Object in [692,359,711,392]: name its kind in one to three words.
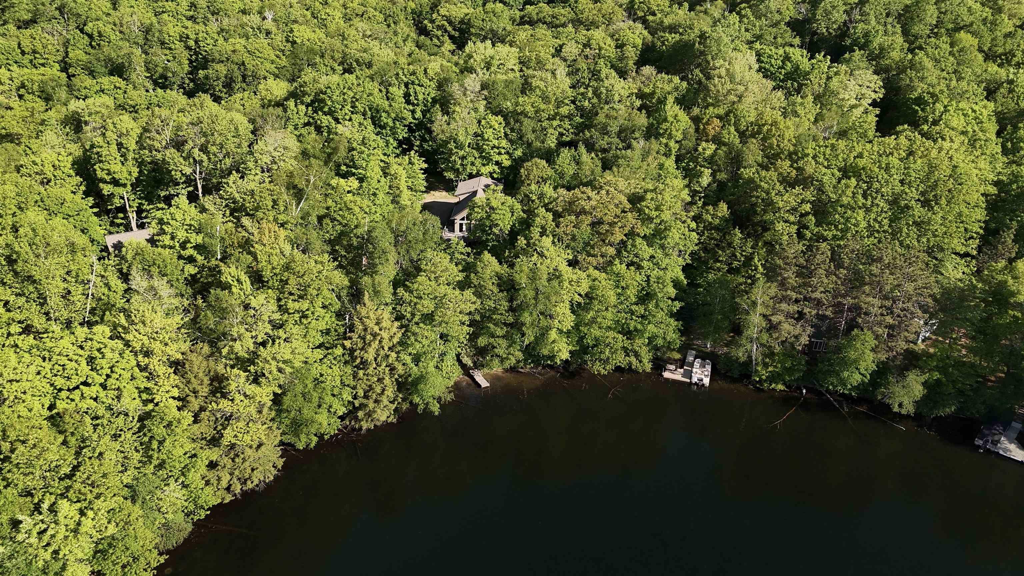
boat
